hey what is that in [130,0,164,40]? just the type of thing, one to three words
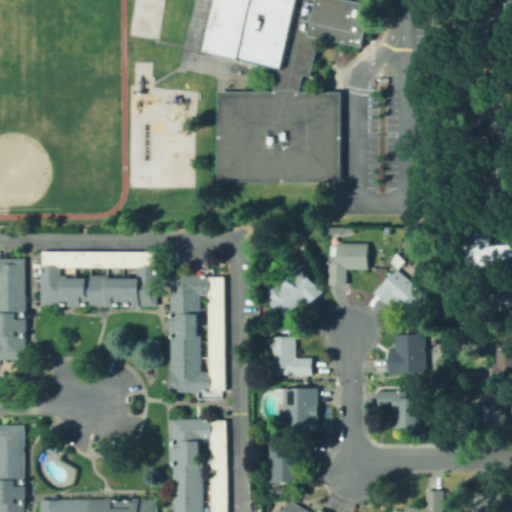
sports court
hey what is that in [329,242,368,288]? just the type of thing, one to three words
house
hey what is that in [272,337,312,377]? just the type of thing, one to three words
house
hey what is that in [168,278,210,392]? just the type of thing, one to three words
building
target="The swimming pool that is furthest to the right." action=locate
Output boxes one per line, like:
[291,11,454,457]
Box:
[260,388,286,420]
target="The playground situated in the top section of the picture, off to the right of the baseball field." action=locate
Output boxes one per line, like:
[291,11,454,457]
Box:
[130,62,200,188]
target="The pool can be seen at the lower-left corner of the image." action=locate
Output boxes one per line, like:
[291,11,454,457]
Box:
[42,450,76,487]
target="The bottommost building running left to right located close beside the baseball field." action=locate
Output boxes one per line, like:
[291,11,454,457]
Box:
[40,267,156,307]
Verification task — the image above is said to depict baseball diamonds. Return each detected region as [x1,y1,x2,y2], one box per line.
[0,0,121,214]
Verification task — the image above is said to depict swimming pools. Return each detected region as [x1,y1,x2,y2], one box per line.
[260,388,286,420]
[42,450,76,487]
